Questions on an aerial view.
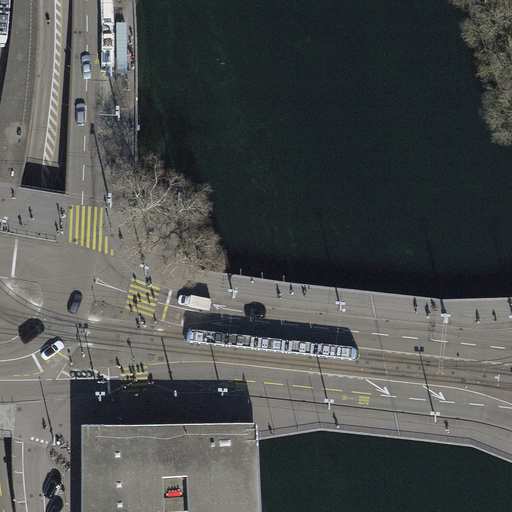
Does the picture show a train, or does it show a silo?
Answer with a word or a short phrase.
train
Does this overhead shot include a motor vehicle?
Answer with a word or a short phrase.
Yes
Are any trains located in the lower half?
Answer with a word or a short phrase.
Yes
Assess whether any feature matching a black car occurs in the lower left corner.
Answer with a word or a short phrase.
Yes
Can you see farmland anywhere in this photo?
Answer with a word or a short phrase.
No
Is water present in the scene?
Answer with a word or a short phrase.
Yes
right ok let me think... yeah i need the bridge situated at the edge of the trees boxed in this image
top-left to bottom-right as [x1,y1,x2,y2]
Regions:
[222,272,512,465]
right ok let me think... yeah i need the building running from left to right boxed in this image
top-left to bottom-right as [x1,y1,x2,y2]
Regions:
[79,424,262,512]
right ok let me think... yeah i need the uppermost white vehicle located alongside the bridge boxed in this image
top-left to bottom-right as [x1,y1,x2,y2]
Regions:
[178,294,212,312]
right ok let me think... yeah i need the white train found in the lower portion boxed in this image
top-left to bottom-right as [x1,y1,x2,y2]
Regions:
[186,331,358,360]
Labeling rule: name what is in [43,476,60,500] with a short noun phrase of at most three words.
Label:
car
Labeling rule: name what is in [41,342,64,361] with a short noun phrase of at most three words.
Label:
car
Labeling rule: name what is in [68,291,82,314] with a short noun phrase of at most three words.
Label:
vehicle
